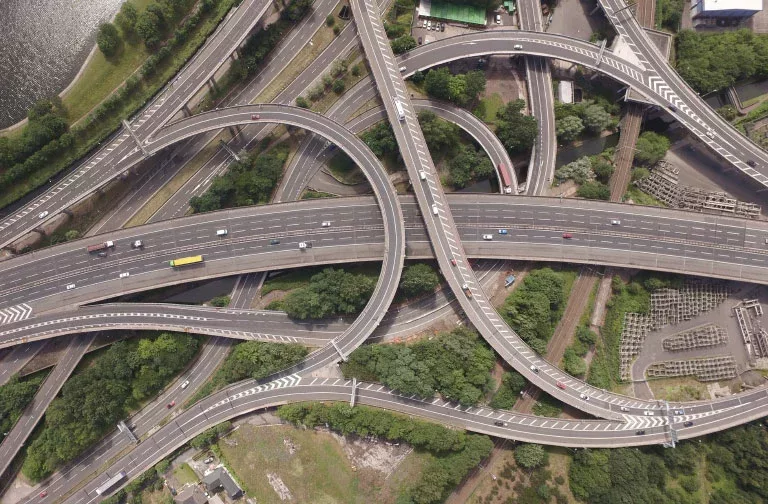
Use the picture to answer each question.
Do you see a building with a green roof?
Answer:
Yes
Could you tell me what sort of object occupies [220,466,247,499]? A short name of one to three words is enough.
house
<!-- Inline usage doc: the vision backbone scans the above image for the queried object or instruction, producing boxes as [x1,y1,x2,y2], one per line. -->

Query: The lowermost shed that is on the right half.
[556,80,573,104]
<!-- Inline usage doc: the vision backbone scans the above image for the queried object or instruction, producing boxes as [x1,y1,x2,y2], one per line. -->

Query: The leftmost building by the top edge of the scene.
[418,0,487,30]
